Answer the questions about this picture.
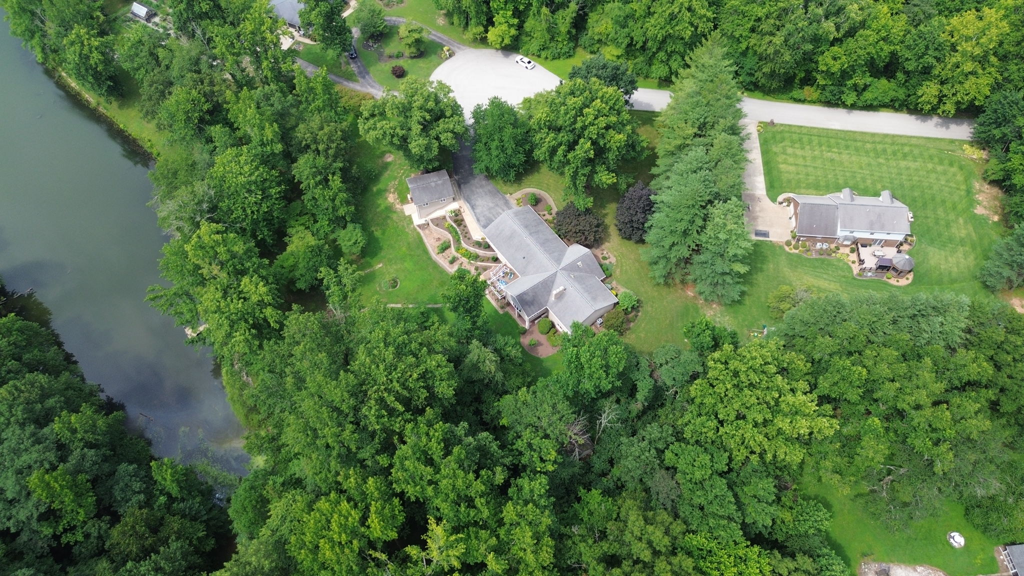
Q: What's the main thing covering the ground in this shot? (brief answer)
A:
trees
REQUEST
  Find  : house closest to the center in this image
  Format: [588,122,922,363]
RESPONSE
[482,206,619,339]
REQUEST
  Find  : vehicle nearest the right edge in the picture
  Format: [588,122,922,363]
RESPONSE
[514,55,535,69]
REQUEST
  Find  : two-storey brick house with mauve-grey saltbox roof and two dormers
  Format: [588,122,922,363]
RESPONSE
[786,185,917,252]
